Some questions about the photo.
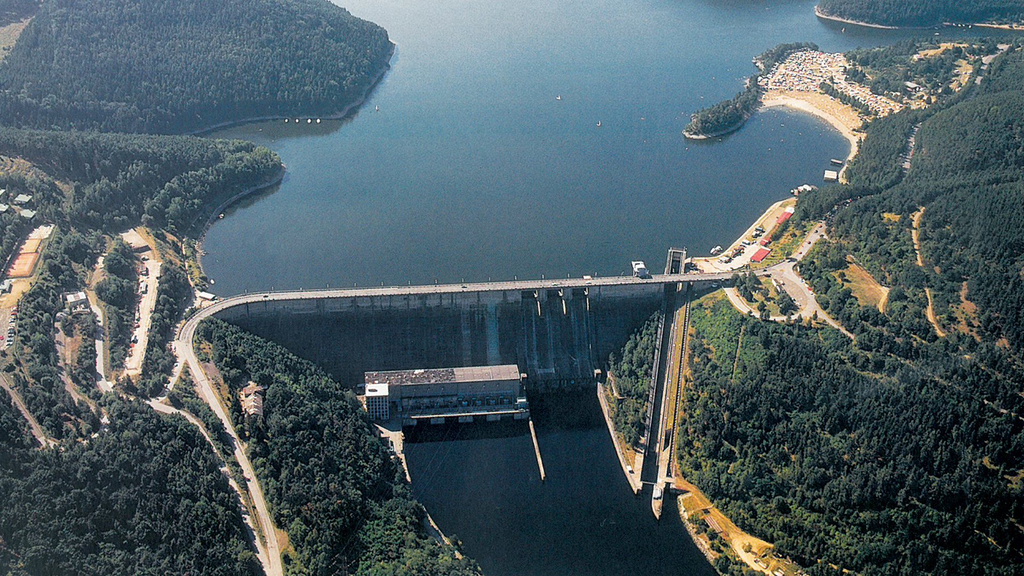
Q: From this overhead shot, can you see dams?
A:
Yes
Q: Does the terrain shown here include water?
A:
Yes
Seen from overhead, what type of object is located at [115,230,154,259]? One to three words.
building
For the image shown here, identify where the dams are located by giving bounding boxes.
[175,268,747,399]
